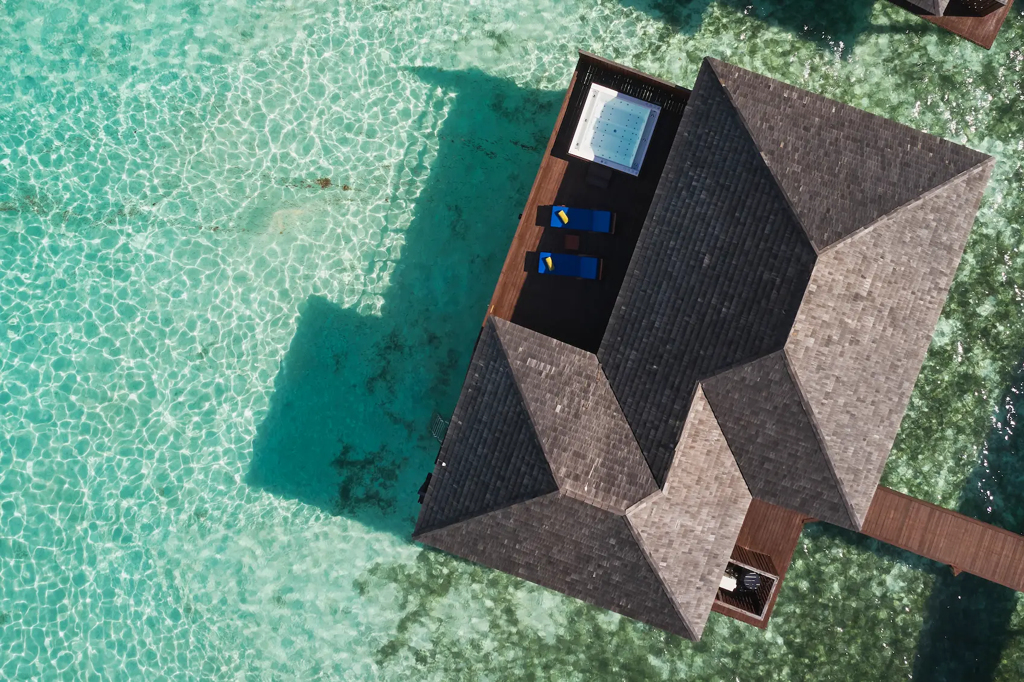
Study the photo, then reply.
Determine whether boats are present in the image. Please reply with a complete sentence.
No, there is no boat in the image.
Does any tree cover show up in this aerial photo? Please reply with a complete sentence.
No, the scene doesn't show any tree cover.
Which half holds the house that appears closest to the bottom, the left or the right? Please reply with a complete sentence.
It is on the right.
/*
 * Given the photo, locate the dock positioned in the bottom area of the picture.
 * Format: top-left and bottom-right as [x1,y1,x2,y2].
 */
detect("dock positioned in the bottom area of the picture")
[862,486,1024,592]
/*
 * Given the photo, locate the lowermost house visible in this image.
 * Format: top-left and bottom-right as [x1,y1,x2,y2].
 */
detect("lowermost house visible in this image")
[410,54,996,644]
